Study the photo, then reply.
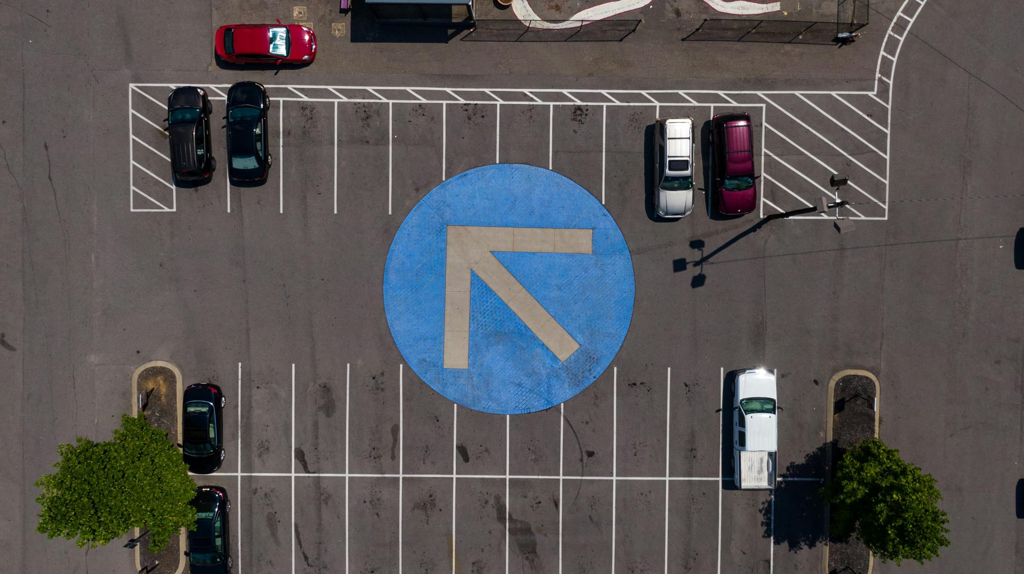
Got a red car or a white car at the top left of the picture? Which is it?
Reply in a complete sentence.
The one visible at the top left of the picture is a red car.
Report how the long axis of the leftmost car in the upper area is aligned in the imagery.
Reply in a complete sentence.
The leftmost car in the upper area runs vertically in the image.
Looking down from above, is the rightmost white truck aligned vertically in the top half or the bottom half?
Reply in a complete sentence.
The rightmost white truck aligned vertically sits in the bottom half of the picture.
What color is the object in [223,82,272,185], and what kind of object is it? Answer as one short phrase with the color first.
black car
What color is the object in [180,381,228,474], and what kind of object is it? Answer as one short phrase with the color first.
black car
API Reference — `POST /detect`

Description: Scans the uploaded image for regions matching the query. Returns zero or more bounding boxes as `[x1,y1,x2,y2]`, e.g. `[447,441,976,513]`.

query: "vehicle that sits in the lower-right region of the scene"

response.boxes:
[731,368,783,491]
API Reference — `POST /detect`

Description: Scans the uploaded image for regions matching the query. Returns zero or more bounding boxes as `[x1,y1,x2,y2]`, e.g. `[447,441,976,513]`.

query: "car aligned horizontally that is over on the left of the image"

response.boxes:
[214,19,318,66]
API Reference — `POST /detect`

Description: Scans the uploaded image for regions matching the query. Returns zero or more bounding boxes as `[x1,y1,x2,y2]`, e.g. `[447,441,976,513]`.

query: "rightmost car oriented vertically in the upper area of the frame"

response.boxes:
[710,113,762,215]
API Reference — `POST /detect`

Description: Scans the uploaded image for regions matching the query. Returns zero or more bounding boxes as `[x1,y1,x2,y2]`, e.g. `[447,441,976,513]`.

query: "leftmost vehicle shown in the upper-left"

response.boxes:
[165,88,218,183]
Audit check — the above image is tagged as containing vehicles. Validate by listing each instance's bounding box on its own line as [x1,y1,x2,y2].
[165,88,218,183]
[652,118,699,218]
[186,483,235,574]
[731,368,783,491]
[710,113,762,215]
[223,82,272,185]
[180,381,228,474]
[214,19,318,66]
